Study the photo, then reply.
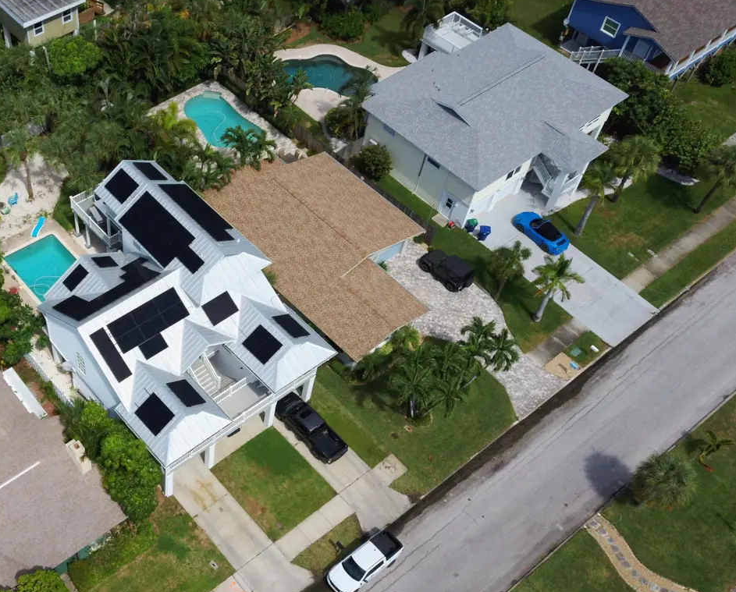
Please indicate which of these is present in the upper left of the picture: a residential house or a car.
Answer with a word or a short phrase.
residential house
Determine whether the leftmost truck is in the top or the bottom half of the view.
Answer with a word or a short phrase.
bottom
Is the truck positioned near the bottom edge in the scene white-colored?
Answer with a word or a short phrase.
Yes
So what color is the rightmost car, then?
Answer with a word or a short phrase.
blue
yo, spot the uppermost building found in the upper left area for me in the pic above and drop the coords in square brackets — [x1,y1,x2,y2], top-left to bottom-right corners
[0,0,99,69]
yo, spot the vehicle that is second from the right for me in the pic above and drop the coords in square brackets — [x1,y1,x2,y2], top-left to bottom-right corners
[417,251,473,290]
